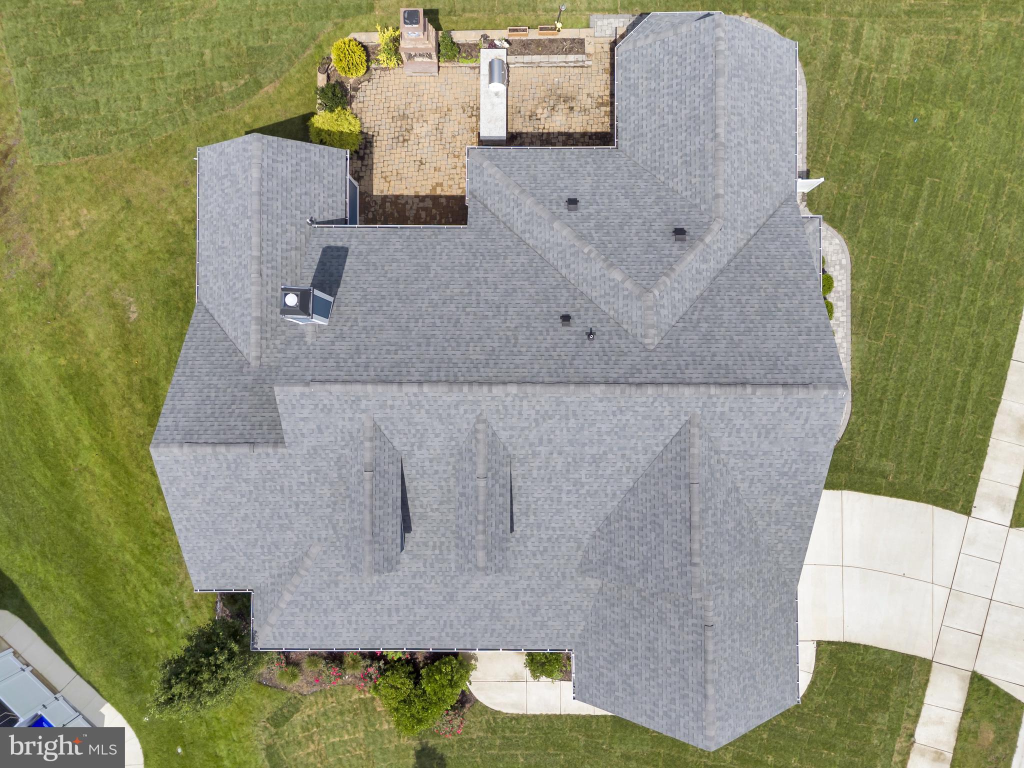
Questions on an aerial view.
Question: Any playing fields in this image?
No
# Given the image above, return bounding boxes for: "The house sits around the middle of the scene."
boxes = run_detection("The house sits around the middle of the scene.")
[150,12,848,751]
